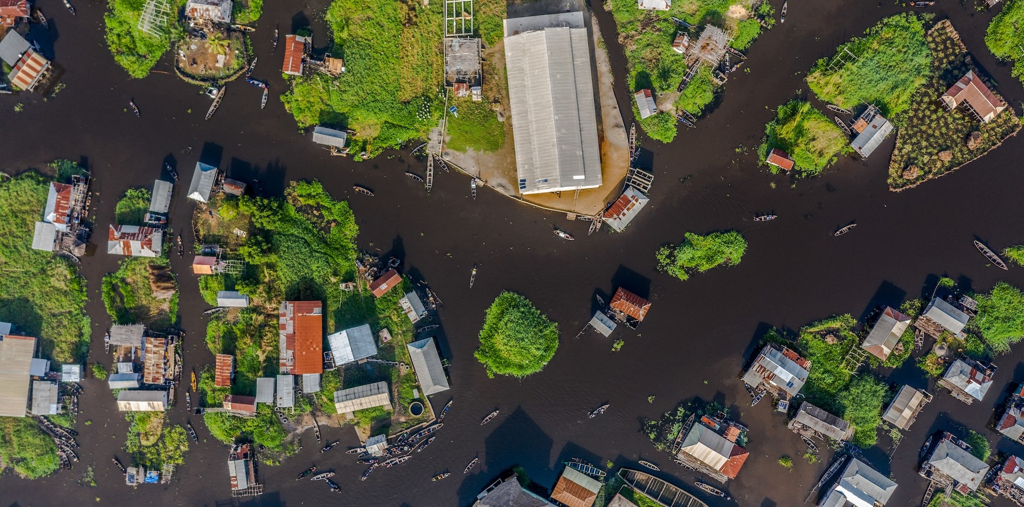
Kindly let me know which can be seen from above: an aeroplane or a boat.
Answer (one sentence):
This aerial view contains a boat.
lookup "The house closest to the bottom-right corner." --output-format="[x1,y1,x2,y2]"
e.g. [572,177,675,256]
[989,453,1024,505]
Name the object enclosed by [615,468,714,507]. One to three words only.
ship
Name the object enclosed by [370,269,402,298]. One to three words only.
house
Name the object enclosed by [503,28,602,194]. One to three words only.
building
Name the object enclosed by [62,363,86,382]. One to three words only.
shed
